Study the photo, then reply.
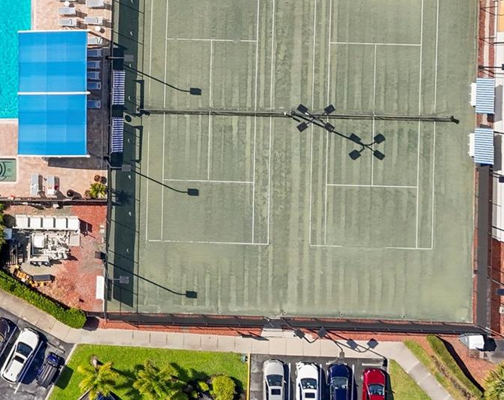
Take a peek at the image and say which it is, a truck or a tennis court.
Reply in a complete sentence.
Of the two, only a tennis court appears.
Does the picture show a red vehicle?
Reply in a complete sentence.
Yes, looking at the shot, I can spot a red vehicle.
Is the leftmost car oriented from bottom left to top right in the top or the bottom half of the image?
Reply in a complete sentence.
Seen from above, the leftmost car oriented from bottom left to top right lies in the bottom half of the view.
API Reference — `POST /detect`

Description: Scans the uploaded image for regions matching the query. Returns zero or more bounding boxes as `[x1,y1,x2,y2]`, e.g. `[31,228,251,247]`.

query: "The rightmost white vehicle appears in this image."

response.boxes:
[295,360,322,400]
